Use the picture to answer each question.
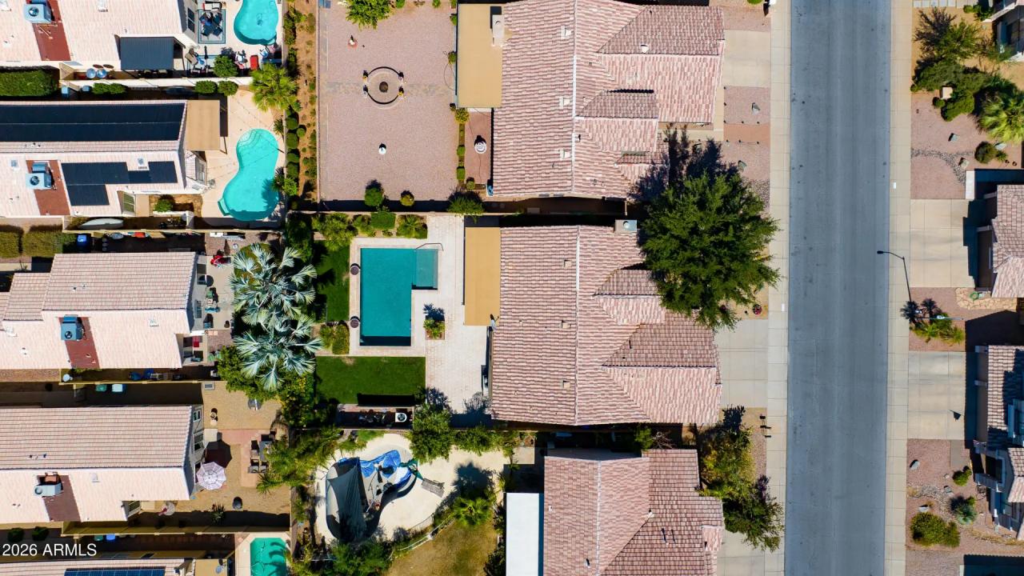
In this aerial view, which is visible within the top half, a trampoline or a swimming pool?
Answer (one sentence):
What appears within the top half is a swimming pool.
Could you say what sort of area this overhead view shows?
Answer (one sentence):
What you see here is a residential area.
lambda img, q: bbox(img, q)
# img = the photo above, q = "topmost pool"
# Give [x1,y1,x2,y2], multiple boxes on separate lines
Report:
[229,0,280,48]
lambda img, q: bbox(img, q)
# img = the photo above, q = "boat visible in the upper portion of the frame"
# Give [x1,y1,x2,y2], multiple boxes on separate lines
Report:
[77,217,127,230]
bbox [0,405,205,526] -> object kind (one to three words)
house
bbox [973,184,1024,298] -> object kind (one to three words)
house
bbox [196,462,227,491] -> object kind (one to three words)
umbrella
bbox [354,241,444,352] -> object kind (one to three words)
swimming pool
